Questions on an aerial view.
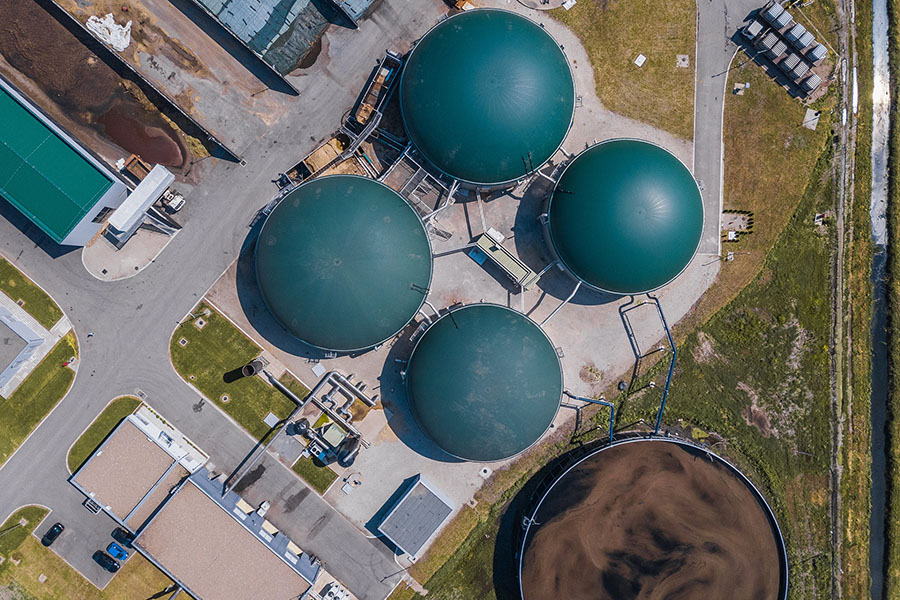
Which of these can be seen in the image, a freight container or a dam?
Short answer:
freight container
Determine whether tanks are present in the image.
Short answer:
Yes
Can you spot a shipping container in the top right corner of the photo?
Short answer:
Yes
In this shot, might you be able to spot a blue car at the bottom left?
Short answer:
Yes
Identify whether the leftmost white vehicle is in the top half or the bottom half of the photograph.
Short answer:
top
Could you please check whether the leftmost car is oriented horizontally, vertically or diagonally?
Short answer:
diagonally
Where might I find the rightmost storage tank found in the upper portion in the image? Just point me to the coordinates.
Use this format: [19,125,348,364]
[536,134,709,294]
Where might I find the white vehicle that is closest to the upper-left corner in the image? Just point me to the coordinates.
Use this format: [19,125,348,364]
[163,187,190,213]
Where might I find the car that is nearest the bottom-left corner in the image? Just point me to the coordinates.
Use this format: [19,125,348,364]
[42,521,66,546]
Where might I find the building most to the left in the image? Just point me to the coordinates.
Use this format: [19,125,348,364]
[0,302,47,393]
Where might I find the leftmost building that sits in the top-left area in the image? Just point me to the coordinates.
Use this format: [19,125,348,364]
[0,76,132,247]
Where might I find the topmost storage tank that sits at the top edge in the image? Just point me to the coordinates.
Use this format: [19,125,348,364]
[400,10,584,192]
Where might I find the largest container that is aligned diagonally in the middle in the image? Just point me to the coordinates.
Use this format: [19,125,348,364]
[475,232,537,293]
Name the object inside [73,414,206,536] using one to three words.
building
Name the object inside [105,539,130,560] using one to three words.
car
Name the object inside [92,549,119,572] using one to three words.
car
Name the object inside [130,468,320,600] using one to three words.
building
